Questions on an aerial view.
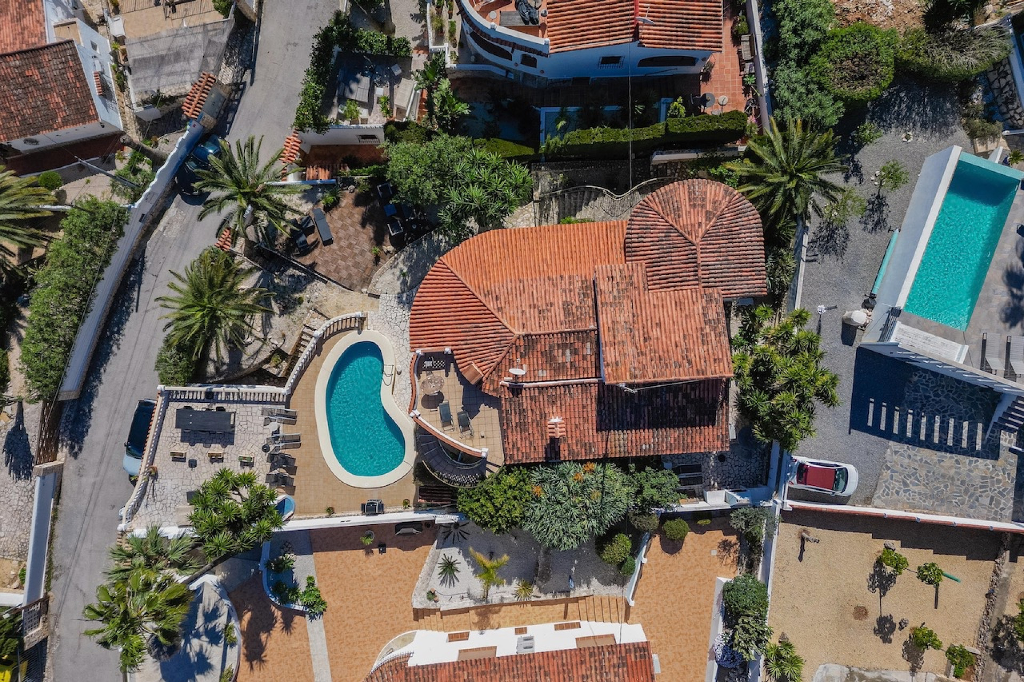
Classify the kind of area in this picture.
residential area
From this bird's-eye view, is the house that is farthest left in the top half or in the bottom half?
top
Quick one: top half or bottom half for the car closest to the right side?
bottom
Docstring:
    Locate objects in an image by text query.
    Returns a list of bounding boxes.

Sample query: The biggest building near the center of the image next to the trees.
[409,178,767,469]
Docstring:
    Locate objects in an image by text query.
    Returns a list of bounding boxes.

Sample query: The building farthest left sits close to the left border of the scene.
[0,0,124,159]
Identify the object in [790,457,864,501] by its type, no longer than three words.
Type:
car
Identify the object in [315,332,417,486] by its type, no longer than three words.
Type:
swimming pool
